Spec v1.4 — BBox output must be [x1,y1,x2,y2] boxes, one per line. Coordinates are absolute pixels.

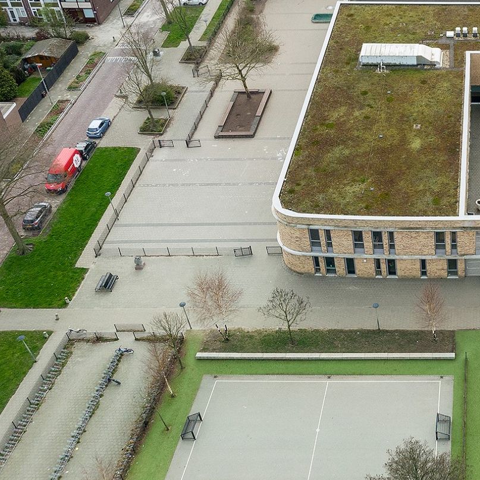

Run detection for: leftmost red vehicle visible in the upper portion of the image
[46,148,85,193]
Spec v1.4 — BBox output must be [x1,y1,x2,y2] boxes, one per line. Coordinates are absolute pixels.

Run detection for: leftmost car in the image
[20,203,54,232]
